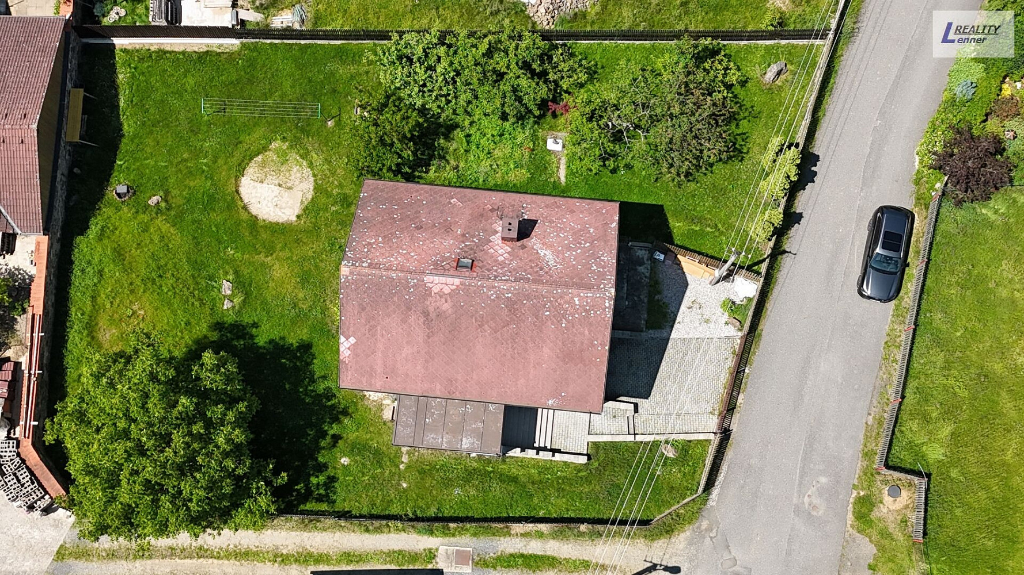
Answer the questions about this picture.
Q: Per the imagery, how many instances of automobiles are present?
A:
one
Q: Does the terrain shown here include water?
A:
No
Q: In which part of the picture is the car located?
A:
right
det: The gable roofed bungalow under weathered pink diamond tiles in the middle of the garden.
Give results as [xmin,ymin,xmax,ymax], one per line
[337,176,620,417]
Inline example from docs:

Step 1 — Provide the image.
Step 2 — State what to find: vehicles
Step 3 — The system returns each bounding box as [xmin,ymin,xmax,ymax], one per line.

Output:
[854,203,909,305]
